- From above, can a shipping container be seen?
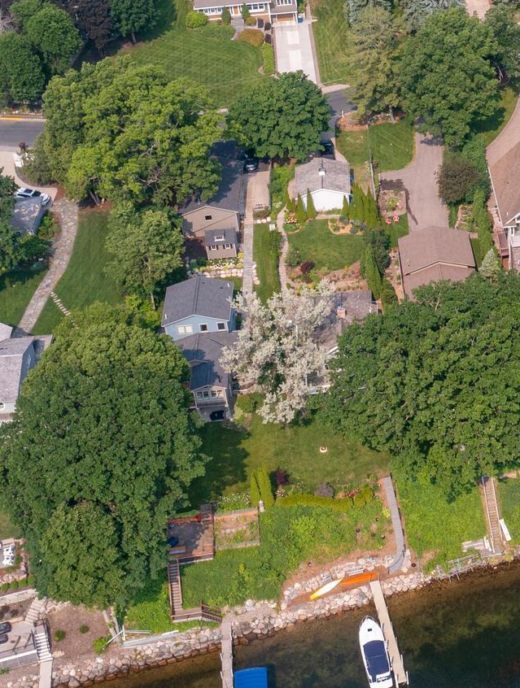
No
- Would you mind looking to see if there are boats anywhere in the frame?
Yes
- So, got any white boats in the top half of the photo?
No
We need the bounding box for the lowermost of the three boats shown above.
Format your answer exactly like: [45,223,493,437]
[360,614,395,688]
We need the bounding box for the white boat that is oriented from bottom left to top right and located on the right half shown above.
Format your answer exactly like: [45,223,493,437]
[310,576,342,597]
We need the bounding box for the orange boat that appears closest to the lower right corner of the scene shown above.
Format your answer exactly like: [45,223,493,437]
[339,571,377,585]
